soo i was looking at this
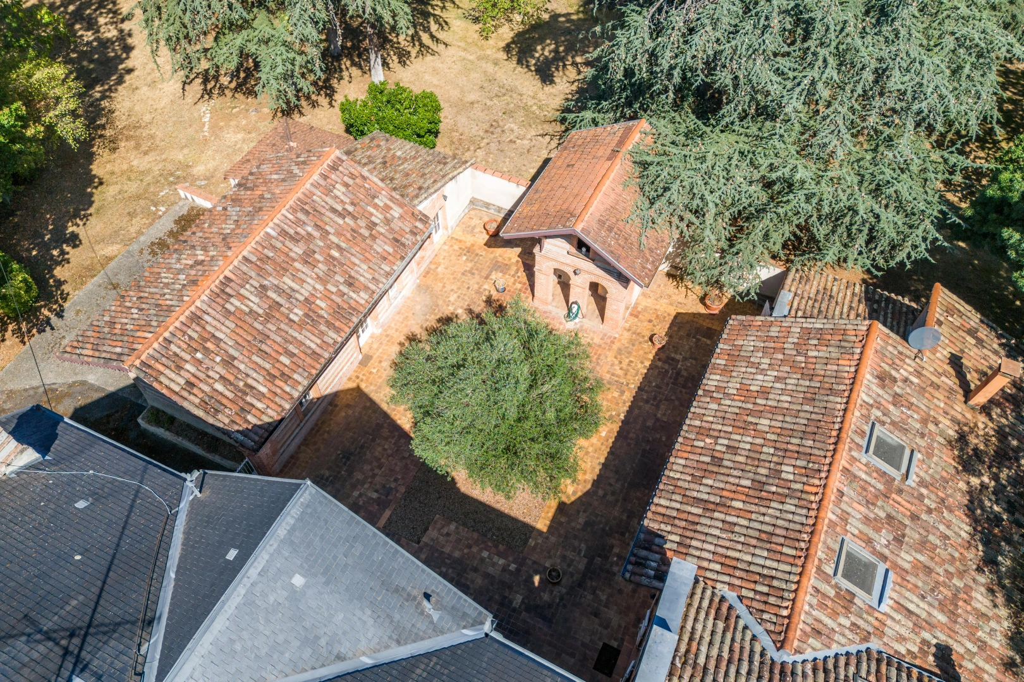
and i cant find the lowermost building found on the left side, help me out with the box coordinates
[0,403,589,682]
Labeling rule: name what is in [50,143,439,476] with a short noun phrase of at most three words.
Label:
shed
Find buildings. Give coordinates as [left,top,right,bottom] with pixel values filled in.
[0,403,589,682]
[499,114,702,337]
[617,280,1024,682]
[50,143,439,476]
